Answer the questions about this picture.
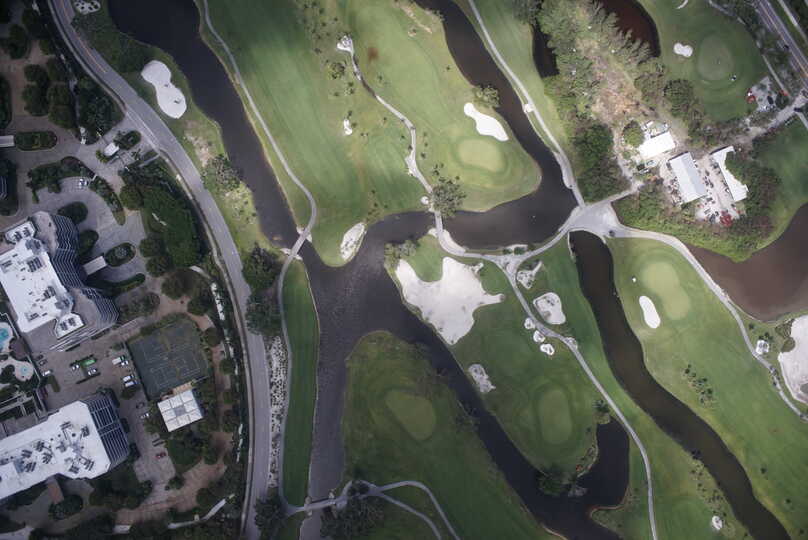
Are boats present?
No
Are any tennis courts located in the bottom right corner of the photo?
No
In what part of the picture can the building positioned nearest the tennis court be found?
bottom left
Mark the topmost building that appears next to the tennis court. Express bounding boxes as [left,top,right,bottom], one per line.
[0,212,122,338]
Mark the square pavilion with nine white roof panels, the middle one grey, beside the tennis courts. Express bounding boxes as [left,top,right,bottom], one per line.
[158,389,205,433]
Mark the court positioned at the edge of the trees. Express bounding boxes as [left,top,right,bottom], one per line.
[128,316,208,399]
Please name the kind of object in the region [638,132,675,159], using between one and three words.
shed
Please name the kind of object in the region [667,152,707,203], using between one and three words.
shed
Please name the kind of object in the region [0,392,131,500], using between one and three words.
building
